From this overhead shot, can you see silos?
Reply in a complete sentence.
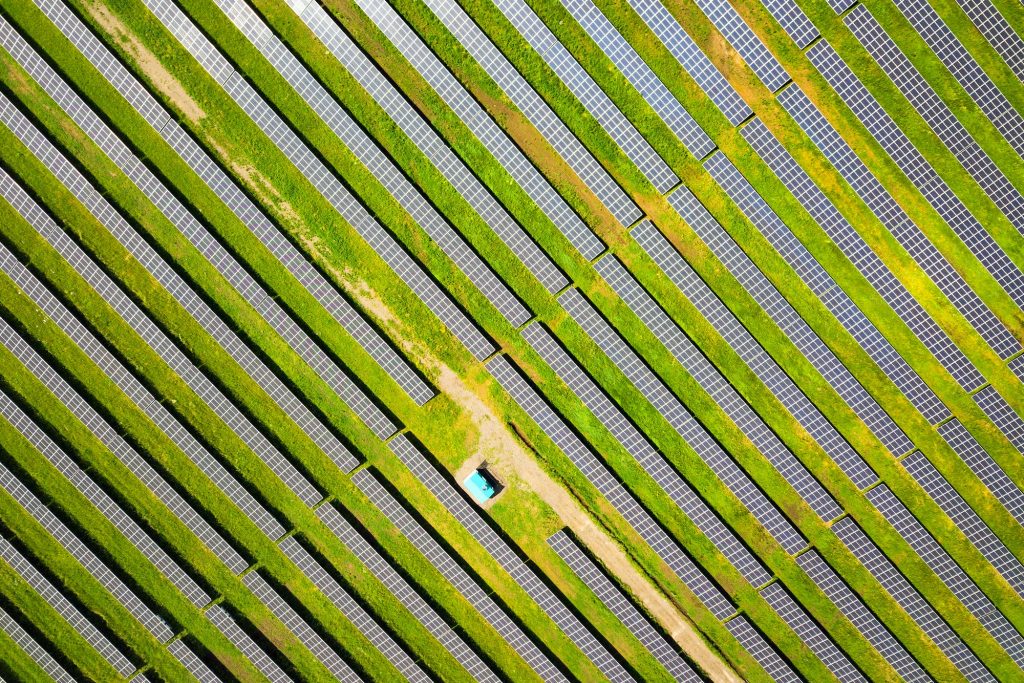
No, the photo shows no silo.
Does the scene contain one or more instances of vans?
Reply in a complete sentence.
No, there's no van here.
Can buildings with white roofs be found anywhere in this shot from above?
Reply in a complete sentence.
No, this view has no building with a white roof in it.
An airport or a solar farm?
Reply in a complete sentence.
The area seen from above is a solar farm.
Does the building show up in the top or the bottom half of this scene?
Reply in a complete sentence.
Seen from above, the building lies in the bottom half of the view.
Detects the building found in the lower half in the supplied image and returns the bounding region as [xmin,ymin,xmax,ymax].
[462,460,495,503]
